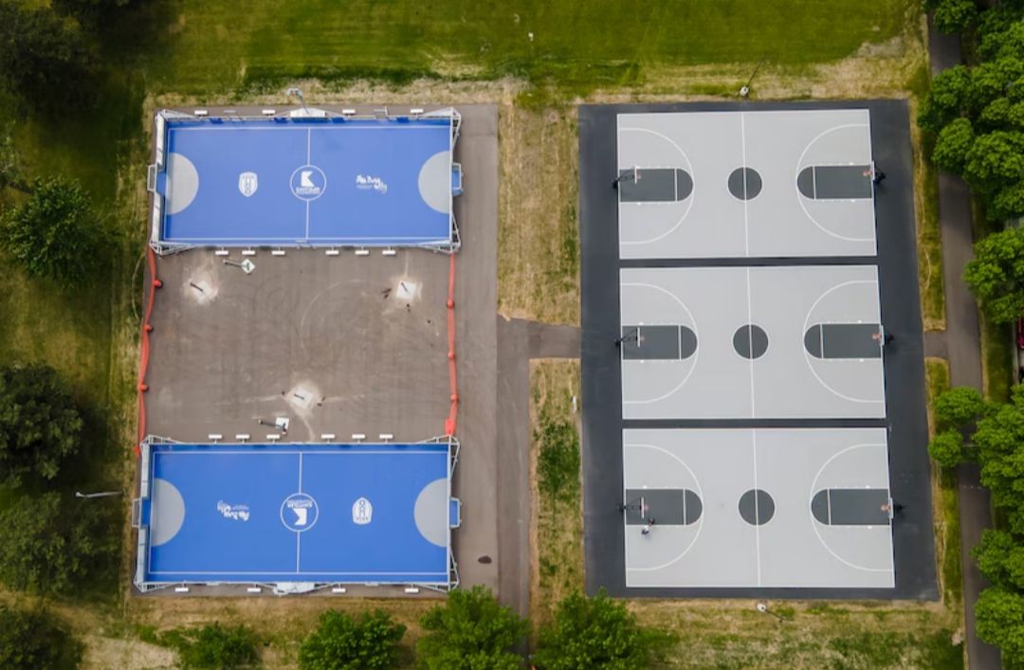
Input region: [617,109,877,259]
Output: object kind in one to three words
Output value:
basketball court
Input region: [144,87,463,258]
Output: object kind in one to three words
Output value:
soccer field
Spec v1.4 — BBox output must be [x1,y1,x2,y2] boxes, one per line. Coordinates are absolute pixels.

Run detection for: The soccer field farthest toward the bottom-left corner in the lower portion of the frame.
[129,431,462,601]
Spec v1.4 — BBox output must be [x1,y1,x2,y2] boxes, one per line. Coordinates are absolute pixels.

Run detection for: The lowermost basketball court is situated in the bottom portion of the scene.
[623,428,895,588]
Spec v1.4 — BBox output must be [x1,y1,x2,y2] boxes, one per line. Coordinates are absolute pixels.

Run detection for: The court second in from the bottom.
[620,265,886,420]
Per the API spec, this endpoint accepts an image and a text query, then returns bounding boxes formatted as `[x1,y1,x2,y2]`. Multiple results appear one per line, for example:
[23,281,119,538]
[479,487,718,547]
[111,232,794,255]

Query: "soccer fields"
[144,87,463,258]
[129,431,462,601]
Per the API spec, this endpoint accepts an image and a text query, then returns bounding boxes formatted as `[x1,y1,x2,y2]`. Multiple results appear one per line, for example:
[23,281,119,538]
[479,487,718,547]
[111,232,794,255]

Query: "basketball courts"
[617,109,877,259]
[623,428,895,588]
[620,265,886,420]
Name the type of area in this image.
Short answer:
sports ground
